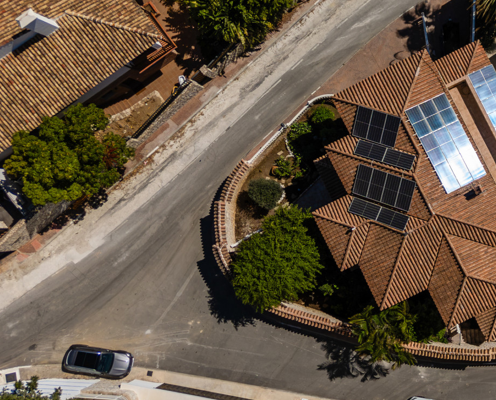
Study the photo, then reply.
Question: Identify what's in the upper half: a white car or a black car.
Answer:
black car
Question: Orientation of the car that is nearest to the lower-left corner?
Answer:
from side to side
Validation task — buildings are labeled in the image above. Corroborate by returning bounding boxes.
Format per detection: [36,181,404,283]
[0,0,165,156]
[310,41,496,344]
